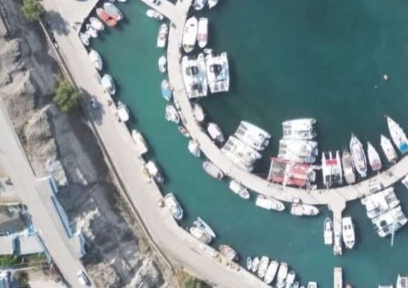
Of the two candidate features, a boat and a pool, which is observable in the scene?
boat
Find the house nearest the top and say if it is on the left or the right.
left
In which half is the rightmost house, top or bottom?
bottom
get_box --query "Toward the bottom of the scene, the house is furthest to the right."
[19,229,48,255]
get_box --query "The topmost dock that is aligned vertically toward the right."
[326,202,346,255]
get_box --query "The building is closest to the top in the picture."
[0,203,25,231]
